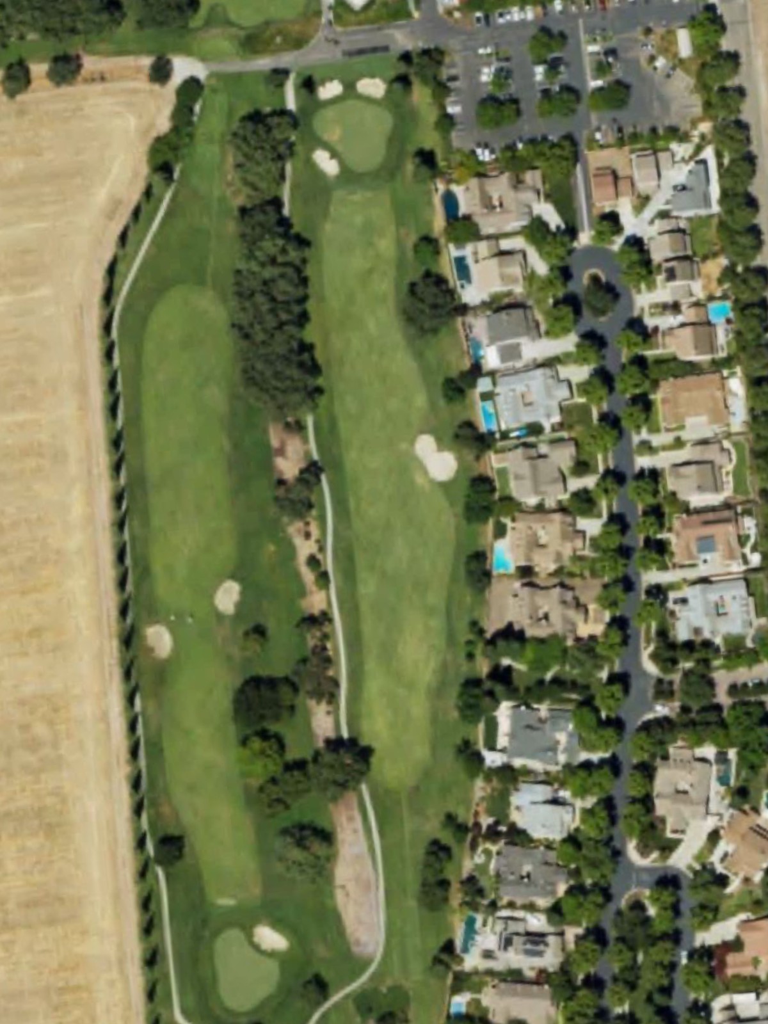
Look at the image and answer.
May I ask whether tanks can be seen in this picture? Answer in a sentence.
No, the photo shows no tank.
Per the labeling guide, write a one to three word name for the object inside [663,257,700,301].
house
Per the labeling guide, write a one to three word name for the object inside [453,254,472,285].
swimming pool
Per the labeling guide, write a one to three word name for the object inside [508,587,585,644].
house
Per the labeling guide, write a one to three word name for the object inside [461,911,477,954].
swimming pool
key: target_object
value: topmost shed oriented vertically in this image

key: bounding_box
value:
[679,27,692,57]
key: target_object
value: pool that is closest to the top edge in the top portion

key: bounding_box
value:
[443,187,460,221]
